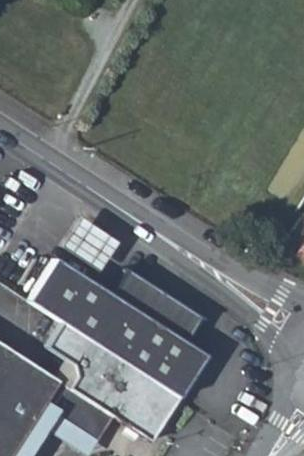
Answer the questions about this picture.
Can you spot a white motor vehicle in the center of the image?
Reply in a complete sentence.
Yes, in the center of the image there is a white motor vehicle.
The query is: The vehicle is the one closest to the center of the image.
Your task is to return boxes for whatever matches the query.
[132,225,153,242]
